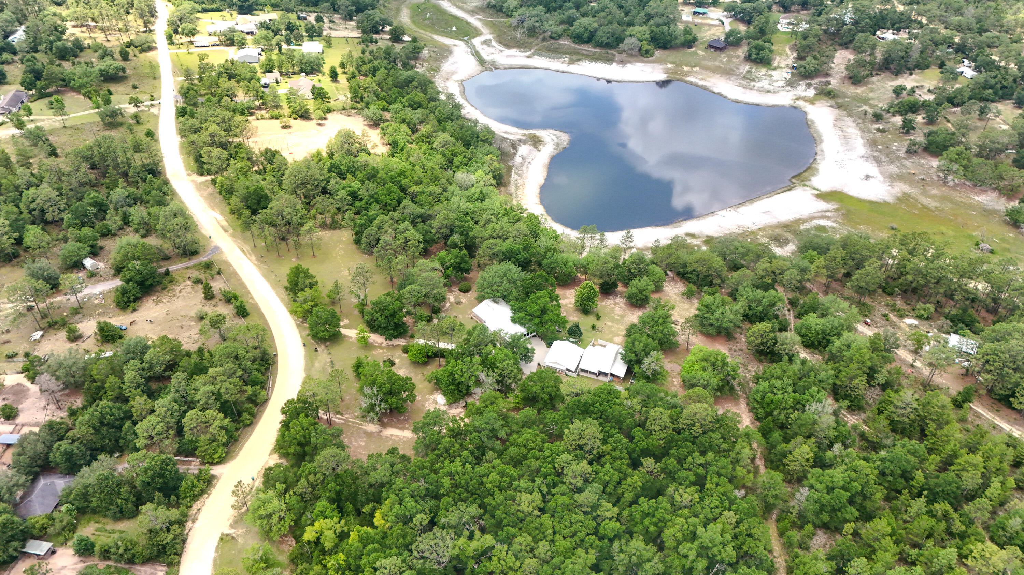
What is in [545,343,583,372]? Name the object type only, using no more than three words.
building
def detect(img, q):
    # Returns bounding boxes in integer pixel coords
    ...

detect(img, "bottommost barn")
[23,538,55,559]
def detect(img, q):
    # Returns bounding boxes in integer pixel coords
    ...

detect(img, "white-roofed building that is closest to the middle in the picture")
[472,302,527,350]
